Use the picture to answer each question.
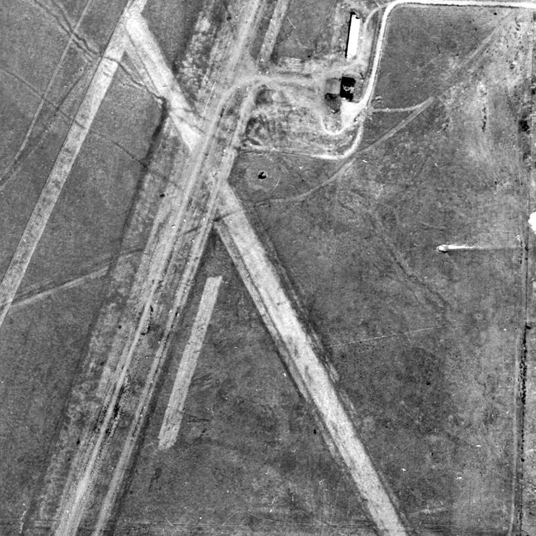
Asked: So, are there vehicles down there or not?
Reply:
No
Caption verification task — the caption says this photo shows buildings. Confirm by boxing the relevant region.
[326,79,340,94]
[340,78,355,101]
[347,13,361,57]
